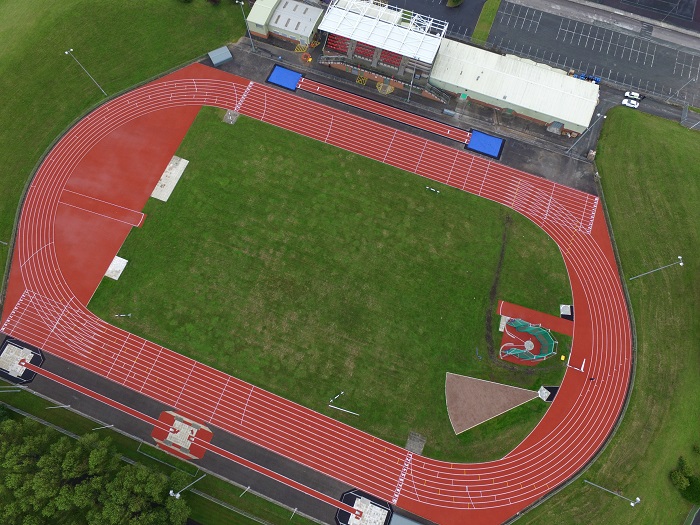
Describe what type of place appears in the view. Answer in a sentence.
The picture captures a sports ground.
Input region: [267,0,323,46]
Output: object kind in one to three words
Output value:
building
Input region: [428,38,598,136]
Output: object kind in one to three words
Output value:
building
